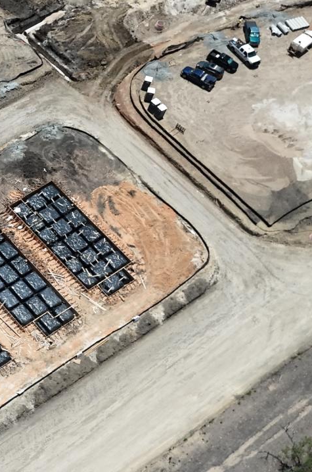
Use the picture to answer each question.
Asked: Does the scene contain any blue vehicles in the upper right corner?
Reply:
Yes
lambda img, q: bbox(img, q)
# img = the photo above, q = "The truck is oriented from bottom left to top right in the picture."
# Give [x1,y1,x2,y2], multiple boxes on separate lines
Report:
[279,28,312,59]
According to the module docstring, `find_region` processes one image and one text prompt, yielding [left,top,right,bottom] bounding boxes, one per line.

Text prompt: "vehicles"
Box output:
[231,35,262,64]
[279,28,312,59]
[205,47,241,73]
[193,62,226,81]
[242,21,262,46]
[179,68,218,90]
